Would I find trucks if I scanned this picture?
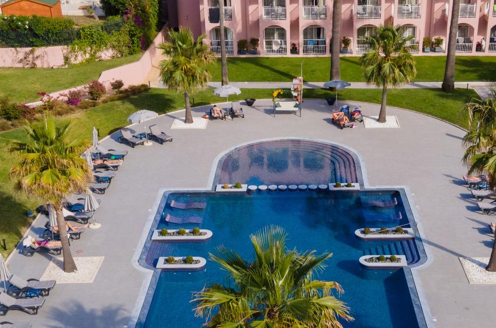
No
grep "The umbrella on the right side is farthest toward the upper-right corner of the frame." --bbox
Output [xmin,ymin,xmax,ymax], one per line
[321,80,352,94]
